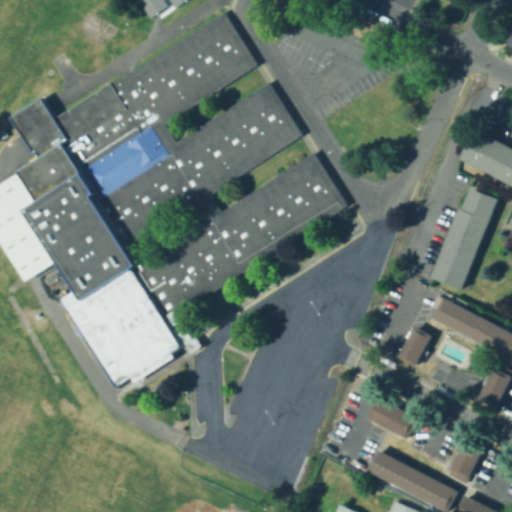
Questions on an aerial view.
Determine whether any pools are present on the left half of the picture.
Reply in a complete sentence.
No, no pool can be made out on the left half of the picture.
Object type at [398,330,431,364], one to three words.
building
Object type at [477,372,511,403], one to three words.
building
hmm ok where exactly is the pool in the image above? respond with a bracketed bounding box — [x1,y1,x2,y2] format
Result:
[436,335,476,370]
